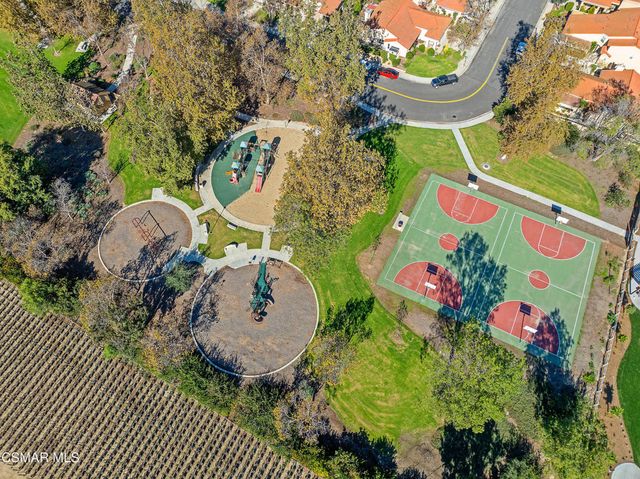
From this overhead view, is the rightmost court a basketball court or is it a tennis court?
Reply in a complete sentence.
The rightmost court appears to be a basketball court.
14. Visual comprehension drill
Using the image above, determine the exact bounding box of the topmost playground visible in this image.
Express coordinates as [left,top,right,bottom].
[211,127,332,224]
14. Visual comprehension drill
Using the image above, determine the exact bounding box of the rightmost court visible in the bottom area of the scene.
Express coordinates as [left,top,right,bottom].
[470,206,601,372]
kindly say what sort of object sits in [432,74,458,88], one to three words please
vehicle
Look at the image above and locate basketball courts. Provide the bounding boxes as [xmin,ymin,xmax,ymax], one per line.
[378,174,512,326]
[470,206,601,372]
